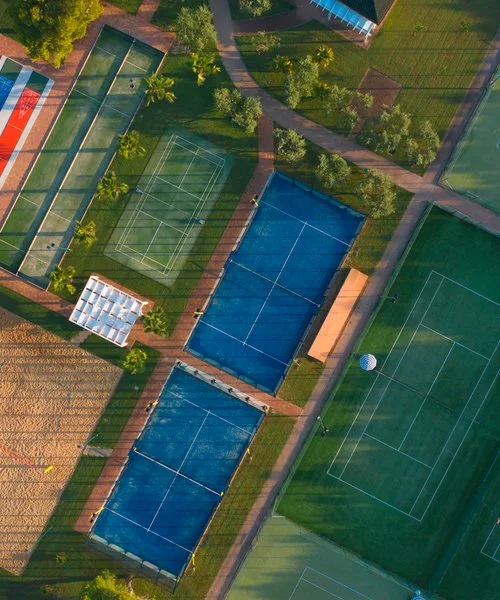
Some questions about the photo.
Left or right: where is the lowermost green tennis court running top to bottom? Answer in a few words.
right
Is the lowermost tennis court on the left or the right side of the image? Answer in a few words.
right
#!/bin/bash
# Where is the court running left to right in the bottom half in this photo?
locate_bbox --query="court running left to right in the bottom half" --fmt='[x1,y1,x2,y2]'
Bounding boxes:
[236,517,447,600]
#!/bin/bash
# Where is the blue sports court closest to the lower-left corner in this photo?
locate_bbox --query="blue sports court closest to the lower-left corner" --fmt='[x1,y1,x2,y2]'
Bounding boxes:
[87,359,270,584]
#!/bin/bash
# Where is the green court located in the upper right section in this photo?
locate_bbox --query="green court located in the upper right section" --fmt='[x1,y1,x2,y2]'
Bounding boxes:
[438,65,500,214]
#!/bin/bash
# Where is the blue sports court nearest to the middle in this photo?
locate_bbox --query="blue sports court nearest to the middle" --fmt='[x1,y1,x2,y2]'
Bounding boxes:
[183,169,367,394]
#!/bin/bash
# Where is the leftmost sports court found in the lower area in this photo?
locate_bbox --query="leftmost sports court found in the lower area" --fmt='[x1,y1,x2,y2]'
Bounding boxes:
[0,309,123,577]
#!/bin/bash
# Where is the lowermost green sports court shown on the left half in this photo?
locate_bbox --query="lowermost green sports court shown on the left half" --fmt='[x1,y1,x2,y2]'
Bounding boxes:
[108,124,236,285]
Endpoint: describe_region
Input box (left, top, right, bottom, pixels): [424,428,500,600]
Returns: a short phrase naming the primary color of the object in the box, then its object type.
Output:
green tennis court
